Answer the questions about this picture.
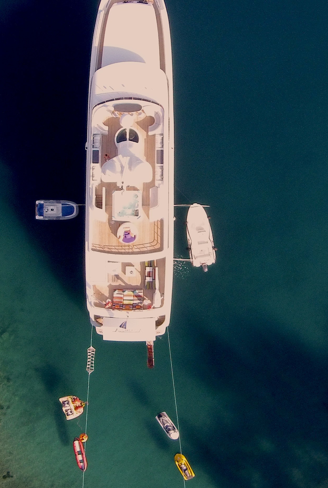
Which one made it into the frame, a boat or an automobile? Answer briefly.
boat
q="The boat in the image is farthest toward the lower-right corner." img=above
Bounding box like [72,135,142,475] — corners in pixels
[176,452,194,480]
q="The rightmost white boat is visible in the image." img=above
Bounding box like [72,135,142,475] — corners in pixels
[188,204,219,271]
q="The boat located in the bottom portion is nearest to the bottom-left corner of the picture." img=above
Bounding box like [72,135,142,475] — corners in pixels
[73,436,88,471]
